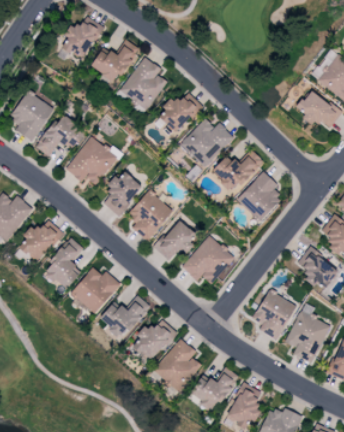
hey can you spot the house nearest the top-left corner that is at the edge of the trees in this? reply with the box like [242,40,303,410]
[59,20,108,61]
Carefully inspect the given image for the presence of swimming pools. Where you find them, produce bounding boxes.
[166,181,186,200]
[332,272,344,294]
[272,270,288,288]
[146,127,166,145]
[200,176,222,195]
[233,206,248,228]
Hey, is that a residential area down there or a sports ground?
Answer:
residential area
